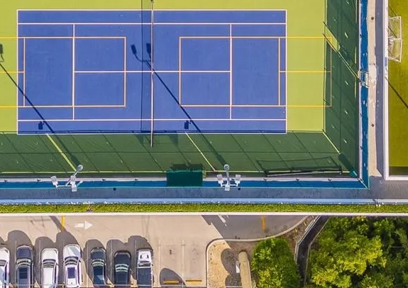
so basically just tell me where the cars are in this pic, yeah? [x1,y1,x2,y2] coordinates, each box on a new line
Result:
[0,245,11,288]
[134,245,155,287]
[60,241,82,287]
[111,248,132,288]
[39,244,60,288]
[88,244,109,287]
[12,245,34,288]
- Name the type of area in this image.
sports ground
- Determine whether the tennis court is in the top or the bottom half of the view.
top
